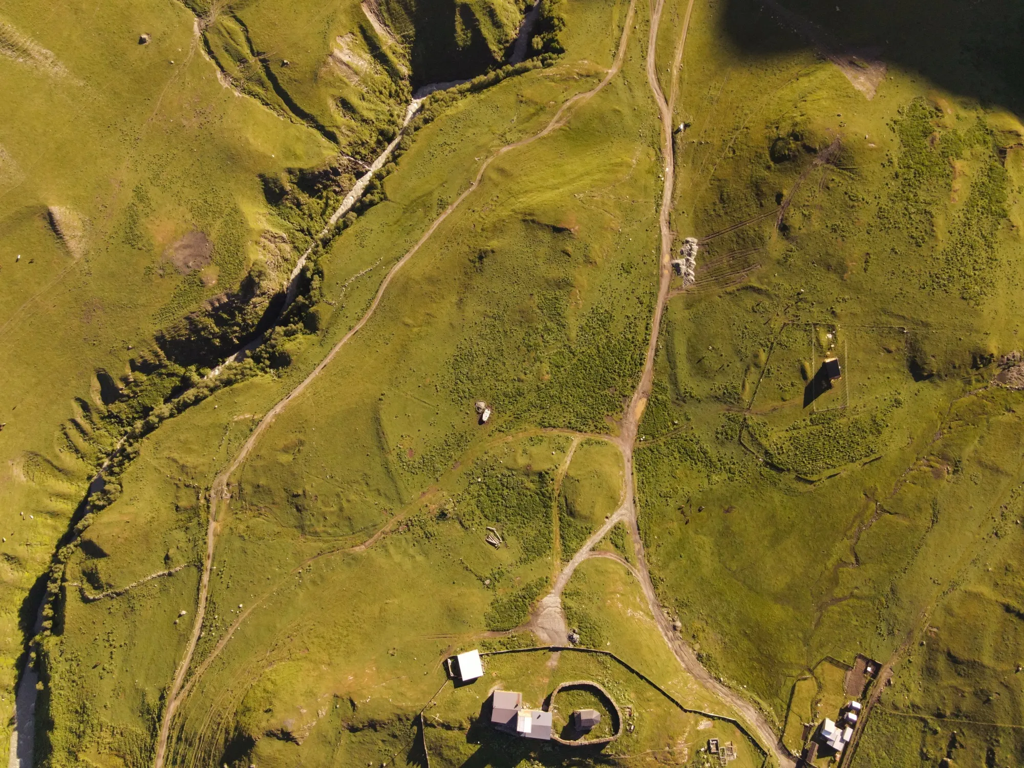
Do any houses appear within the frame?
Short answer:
Yes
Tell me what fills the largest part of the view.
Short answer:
grass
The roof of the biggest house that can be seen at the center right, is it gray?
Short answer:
No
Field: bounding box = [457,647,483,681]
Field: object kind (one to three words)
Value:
barn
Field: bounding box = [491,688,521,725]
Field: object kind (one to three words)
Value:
house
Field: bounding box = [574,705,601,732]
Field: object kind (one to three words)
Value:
building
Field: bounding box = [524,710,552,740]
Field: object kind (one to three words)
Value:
house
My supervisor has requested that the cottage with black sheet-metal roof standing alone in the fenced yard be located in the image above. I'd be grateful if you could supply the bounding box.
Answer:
[821,358,842,382]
